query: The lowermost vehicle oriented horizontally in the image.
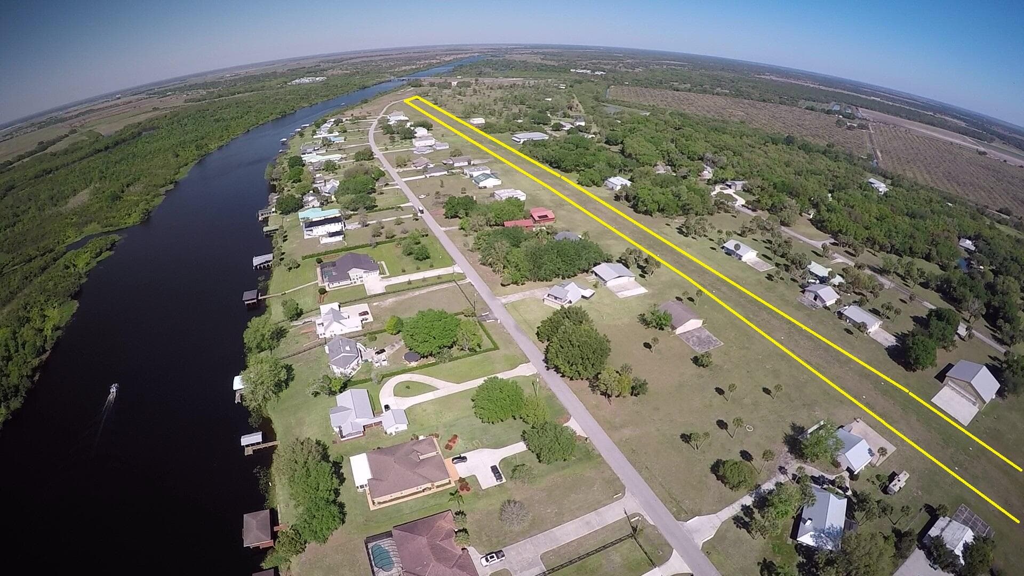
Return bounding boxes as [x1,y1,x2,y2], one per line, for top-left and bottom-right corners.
[479,550,507,565]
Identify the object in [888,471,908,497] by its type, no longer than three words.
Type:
vehicle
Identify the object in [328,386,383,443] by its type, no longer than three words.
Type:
house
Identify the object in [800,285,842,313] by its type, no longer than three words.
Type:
hangar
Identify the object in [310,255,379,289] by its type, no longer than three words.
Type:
building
